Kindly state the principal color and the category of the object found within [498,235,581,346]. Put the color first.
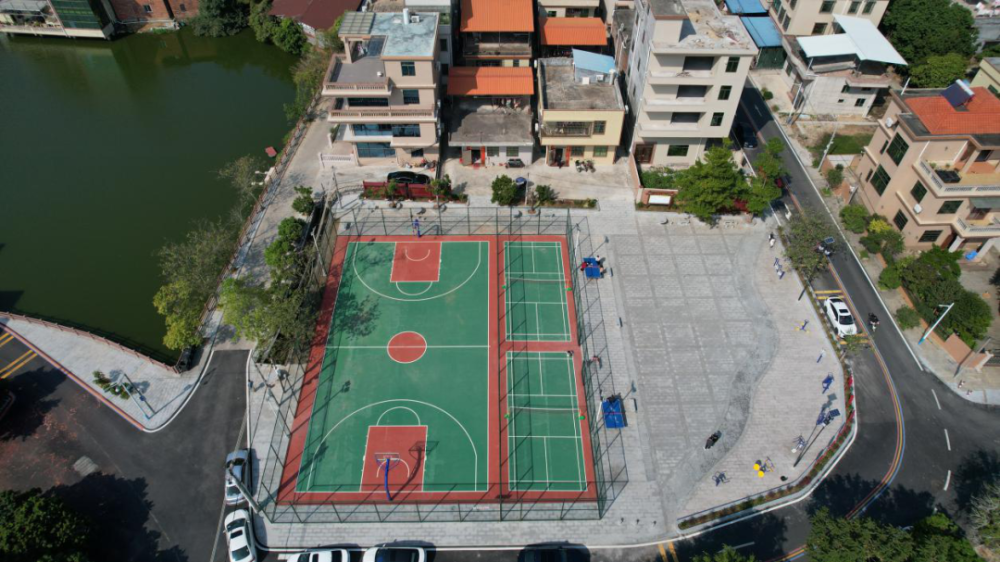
green sports court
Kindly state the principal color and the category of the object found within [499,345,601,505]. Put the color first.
green sports court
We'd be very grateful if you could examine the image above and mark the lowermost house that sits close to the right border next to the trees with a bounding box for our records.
[848,76,1000,263]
